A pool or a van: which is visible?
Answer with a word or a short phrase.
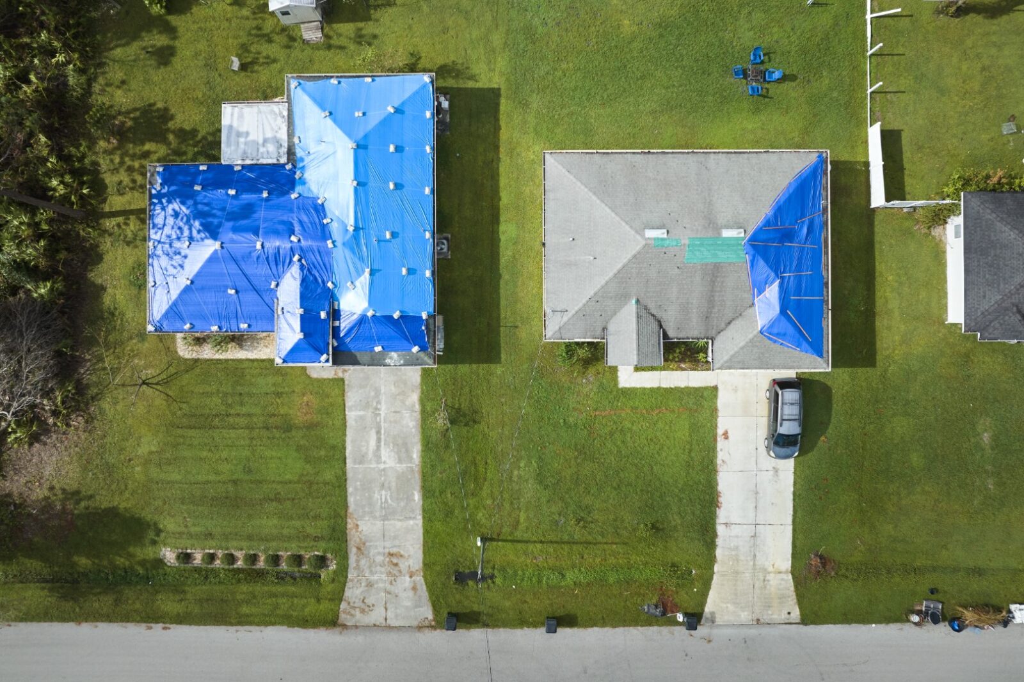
van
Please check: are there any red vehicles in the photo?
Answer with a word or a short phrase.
No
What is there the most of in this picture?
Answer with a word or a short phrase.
grass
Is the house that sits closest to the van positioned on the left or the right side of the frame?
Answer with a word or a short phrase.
right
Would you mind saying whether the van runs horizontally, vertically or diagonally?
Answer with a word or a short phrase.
vertically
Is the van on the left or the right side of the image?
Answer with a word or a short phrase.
right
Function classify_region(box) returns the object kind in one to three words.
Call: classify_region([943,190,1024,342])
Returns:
house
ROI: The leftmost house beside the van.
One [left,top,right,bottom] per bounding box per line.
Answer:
[543,151,831,371]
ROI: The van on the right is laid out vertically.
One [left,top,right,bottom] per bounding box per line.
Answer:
[764,378,804,460]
